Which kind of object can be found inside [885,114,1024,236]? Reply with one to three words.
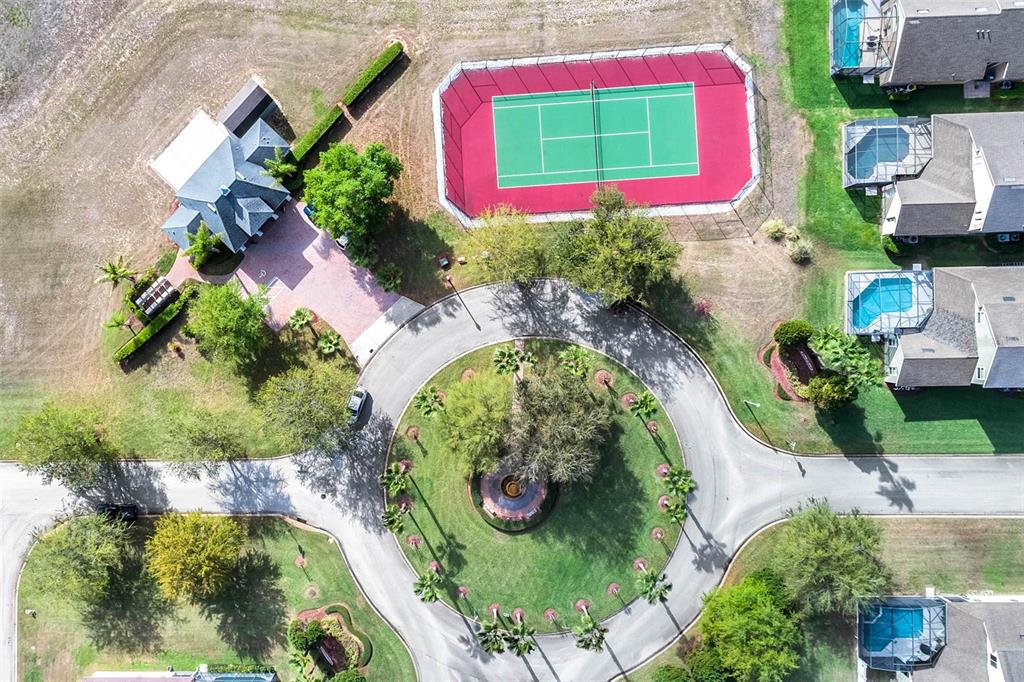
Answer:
house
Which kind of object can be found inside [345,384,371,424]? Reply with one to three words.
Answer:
car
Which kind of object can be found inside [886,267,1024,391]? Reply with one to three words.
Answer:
house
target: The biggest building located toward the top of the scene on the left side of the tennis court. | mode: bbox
[160,118,299,254]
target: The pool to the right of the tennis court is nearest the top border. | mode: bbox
[830,0,884,76]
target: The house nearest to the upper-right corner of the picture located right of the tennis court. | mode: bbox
[884,0,1024,86]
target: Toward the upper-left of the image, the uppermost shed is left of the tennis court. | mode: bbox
[216,77,270,133]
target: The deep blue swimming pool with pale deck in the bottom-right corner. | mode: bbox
[857,595,936,660]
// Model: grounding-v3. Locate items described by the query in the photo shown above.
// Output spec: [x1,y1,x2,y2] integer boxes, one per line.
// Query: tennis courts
[432,42,760,228]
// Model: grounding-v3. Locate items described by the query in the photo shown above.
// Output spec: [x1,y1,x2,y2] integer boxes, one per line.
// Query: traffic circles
[344,282,731,681]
